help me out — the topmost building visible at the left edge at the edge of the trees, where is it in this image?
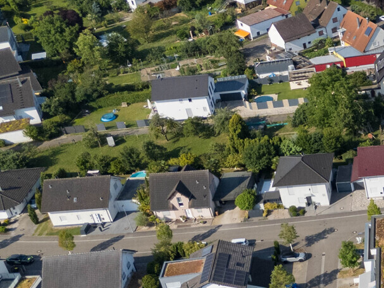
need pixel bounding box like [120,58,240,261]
[0,25,21,47]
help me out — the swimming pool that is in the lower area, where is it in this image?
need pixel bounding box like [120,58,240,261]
[126,168,152,183]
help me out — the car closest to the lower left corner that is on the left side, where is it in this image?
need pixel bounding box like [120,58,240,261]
[6,252,36,265]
